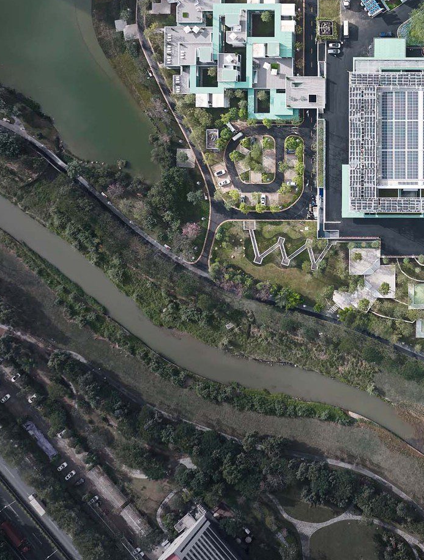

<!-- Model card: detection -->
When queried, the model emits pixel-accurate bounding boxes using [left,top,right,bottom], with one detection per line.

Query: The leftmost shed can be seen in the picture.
[86,463,128,505]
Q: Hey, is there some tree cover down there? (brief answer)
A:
Yes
